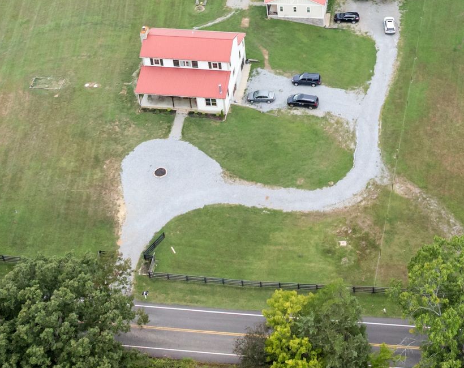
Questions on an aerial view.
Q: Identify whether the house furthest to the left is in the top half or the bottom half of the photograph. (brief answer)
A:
top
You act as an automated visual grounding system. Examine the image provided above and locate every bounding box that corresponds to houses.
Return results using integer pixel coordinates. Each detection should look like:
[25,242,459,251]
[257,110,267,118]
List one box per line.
[132,18,248,115]
[263,0,328,26]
